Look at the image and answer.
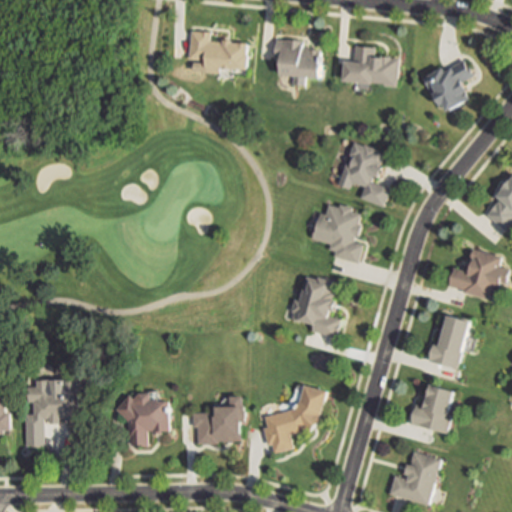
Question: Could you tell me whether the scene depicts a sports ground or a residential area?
residential area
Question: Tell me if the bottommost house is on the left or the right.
right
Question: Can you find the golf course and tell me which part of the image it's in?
left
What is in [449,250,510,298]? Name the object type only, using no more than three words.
house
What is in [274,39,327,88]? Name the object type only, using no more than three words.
house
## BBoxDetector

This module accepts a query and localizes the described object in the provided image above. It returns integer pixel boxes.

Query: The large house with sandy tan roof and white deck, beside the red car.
[190,30,250,80]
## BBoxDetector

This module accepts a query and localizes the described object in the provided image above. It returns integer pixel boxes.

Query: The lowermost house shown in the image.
[389,453,448,505]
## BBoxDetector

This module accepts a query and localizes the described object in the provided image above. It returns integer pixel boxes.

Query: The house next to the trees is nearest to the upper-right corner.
[423,59,476,112]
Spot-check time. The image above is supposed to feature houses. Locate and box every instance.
[190,30,250,80]
[290,274,342,334]
[427,314,479,368]
[423,59,476,112]
[486,176,512,232]
[314,203,366,264]
[26,380,67,448]
[120,392,174,447]
[409,386,454,432]
[0,398,12,434]
[449,250,510,298]
[389,453,448,505]
[274,39,327,88]
[341,45,401,92]
[336,142,390,209]
[264,386,328,453]
[193,396,245,445]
